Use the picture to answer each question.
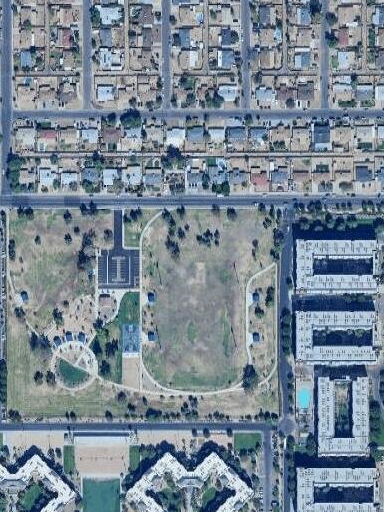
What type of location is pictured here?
residential area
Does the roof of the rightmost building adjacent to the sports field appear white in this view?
Yes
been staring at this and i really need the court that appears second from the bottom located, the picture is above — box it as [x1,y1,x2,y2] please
[122,357,140,389]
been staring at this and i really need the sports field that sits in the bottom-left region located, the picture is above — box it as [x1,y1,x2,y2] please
[81,474,122,512]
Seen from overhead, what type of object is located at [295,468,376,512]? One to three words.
building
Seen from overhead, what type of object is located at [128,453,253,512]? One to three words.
building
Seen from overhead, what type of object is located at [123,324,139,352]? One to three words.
basketball court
